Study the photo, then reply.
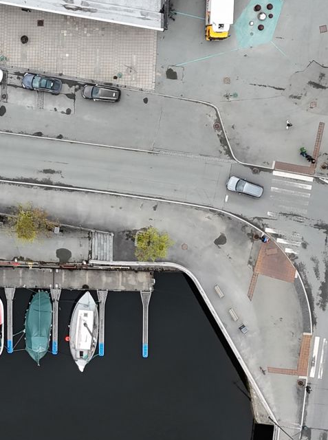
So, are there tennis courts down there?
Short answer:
No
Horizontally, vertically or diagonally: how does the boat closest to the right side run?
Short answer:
vertically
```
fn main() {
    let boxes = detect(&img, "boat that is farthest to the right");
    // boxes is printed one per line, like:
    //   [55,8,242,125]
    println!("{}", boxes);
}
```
[63,292,99,372]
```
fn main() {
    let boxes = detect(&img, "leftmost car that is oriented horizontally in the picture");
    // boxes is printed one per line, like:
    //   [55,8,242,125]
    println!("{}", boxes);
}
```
[20,73,62,95]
